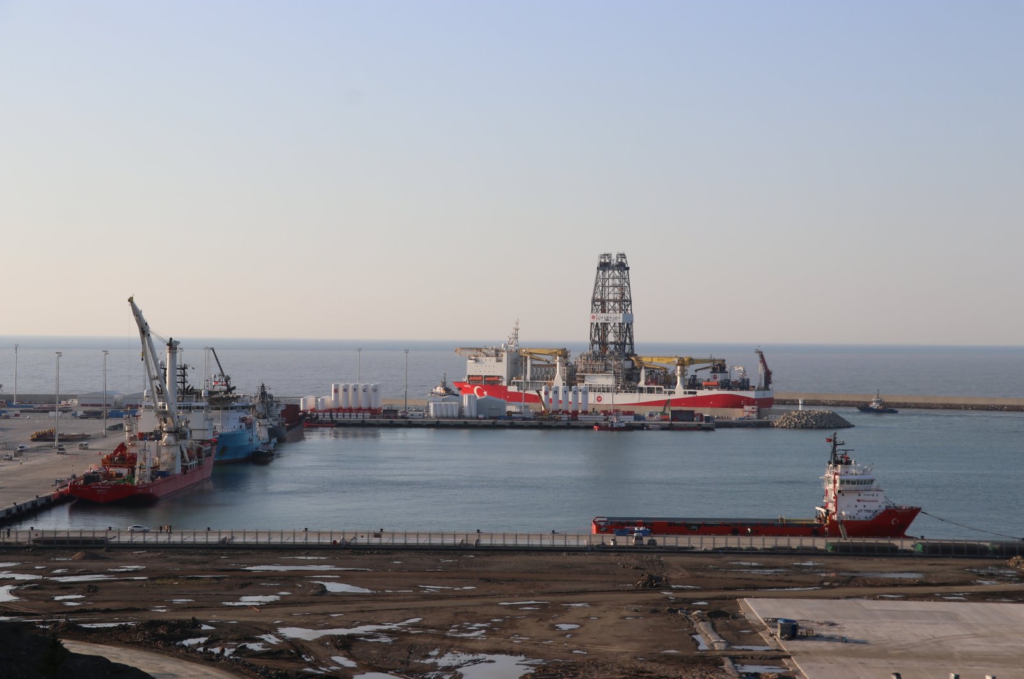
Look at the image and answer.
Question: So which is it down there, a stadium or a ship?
ship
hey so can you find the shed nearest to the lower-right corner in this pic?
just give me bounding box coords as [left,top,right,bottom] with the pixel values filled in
[777,617,799,641]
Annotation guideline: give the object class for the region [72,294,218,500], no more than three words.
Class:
ship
